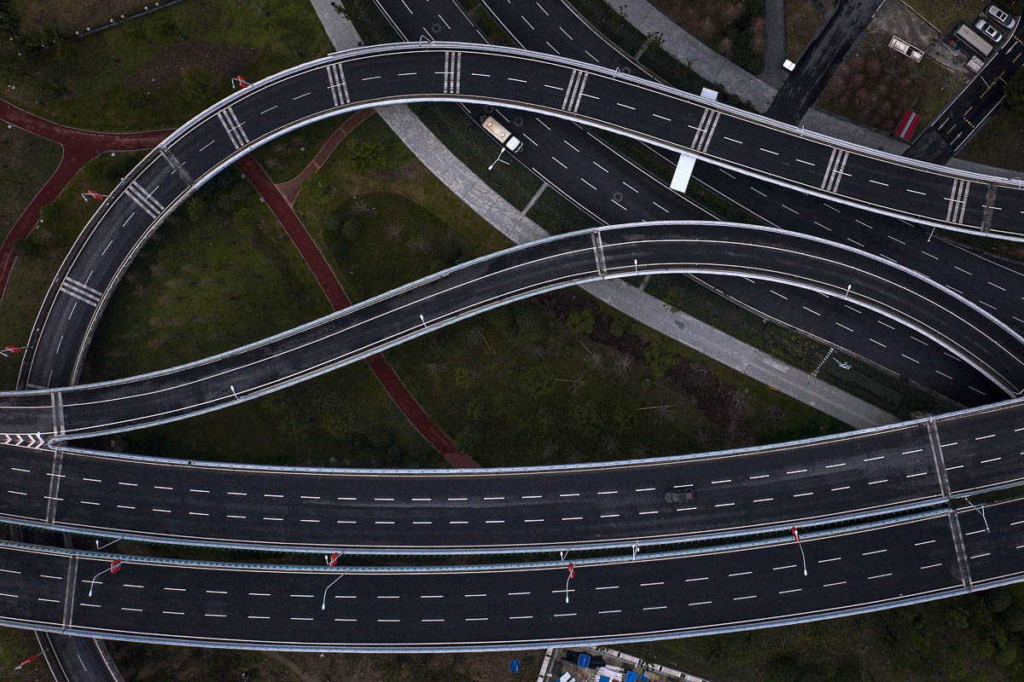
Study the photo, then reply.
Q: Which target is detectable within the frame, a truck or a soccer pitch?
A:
truck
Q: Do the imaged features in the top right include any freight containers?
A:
Yes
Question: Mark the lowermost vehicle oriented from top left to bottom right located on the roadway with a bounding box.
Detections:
[482,116,523,154]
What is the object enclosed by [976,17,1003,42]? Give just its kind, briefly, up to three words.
car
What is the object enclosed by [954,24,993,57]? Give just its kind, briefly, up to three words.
shipping container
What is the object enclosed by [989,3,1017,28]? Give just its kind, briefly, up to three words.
car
